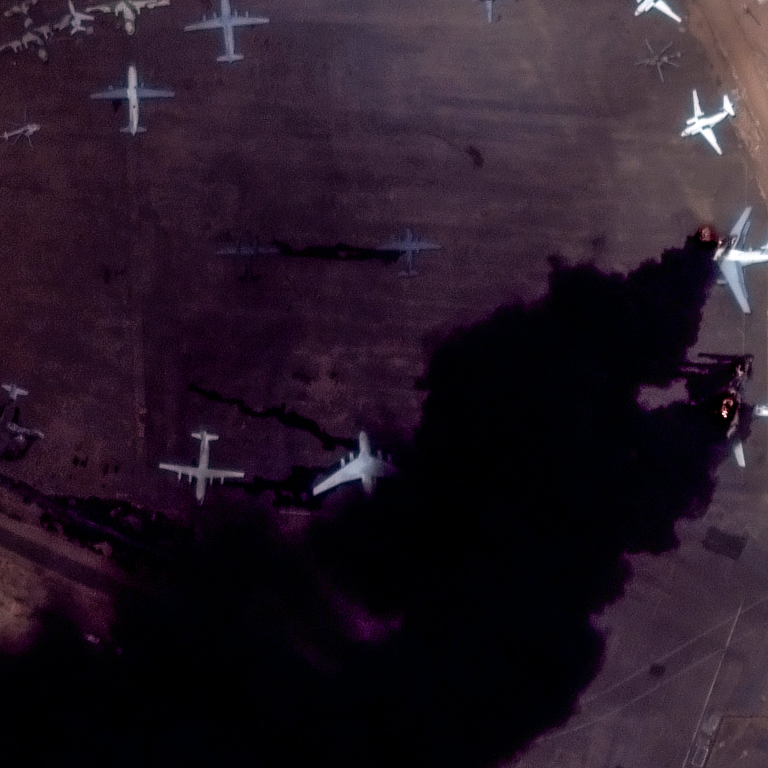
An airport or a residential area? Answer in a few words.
airport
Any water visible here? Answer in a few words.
No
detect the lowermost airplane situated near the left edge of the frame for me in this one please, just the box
[0,384,44,456]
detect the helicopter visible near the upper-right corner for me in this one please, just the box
[634,38,683,82]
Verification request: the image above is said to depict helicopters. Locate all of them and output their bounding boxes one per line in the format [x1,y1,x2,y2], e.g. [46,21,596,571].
[0,108,43,149]
[634,38,683,82]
